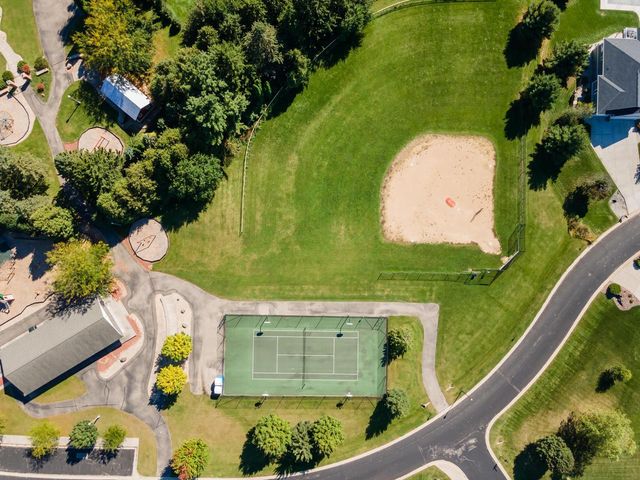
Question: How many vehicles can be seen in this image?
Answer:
zero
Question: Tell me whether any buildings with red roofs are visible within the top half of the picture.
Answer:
No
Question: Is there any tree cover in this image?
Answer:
Yes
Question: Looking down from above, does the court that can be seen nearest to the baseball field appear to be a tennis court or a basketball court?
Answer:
tennis court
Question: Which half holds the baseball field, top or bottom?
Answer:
top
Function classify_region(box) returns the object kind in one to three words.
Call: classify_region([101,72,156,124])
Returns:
building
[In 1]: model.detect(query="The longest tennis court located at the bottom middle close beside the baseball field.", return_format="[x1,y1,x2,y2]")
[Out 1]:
[224,316,386,397]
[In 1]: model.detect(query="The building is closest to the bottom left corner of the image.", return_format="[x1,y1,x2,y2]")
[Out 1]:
[0,296,124,396]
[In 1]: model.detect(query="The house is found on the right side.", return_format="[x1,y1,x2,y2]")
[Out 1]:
[591,38,640,114]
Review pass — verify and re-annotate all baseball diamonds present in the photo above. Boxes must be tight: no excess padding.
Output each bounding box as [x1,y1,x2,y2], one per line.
[242,0,522,298]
